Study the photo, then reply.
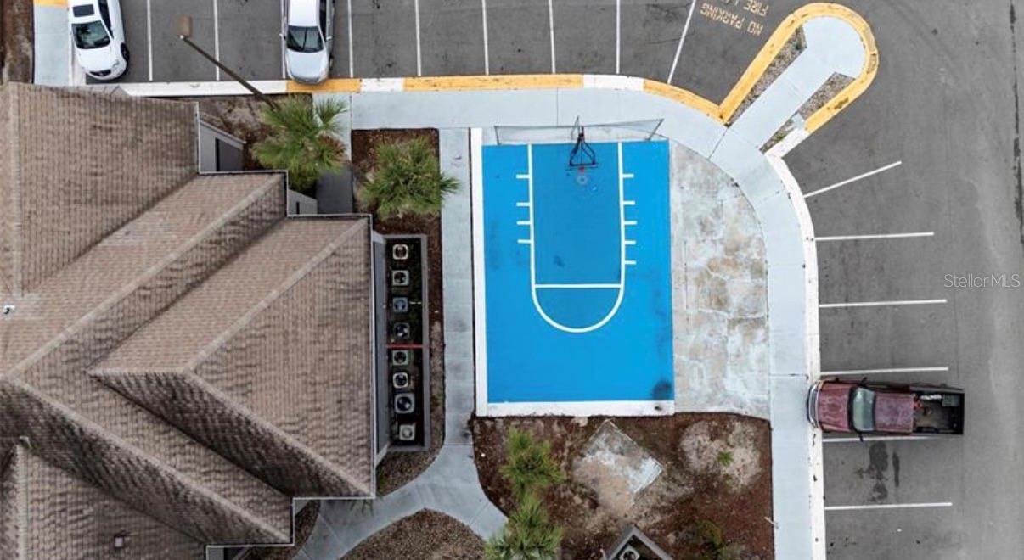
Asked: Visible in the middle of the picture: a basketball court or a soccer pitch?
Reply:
basketball court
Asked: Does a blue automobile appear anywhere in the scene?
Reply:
No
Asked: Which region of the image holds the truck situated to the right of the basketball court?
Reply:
bottom right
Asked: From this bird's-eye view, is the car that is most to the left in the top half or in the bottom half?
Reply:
top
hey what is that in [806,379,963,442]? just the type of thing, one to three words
truck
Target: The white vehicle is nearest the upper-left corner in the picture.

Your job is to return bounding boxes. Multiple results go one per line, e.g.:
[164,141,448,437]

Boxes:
[64,0,130,81]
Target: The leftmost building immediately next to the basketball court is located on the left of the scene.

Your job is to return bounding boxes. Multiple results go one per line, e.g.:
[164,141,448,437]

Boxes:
[0,77,388,560]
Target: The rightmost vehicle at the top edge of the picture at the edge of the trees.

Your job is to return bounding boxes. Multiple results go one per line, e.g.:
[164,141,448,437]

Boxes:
[277,0,334,84]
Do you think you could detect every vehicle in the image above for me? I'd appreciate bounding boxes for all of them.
[806,379,963,442]
[64,0,130,81]
[277,0,334,84]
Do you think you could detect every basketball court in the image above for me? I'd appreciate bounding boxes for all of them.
[471,128,674,416]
